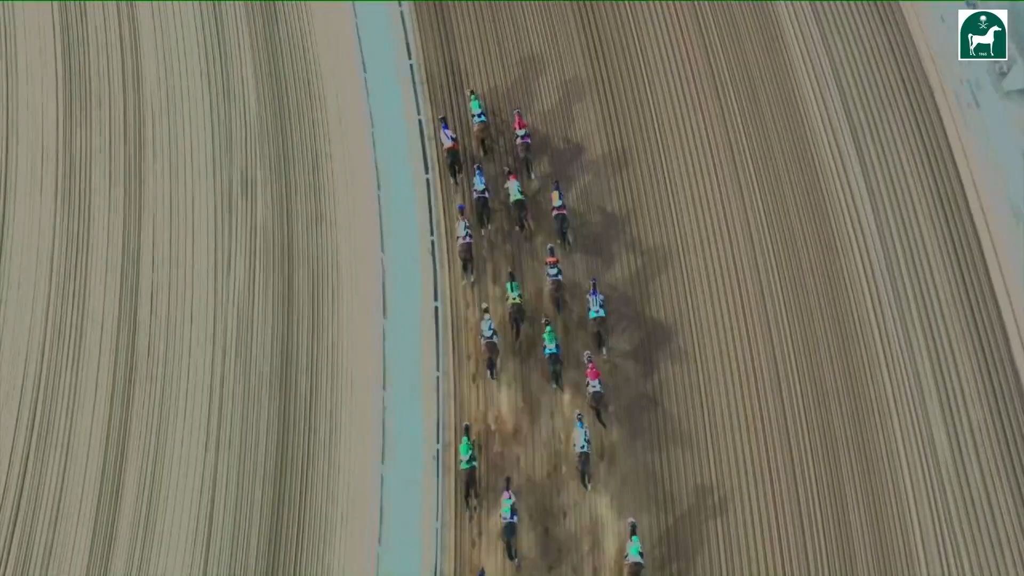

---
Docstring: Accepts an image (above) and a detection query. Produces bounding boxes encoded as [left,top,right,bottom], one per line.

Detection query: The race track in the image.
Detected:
[412,0,1024,576]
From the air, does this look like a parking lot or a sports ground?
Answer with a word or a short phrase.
sports ground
